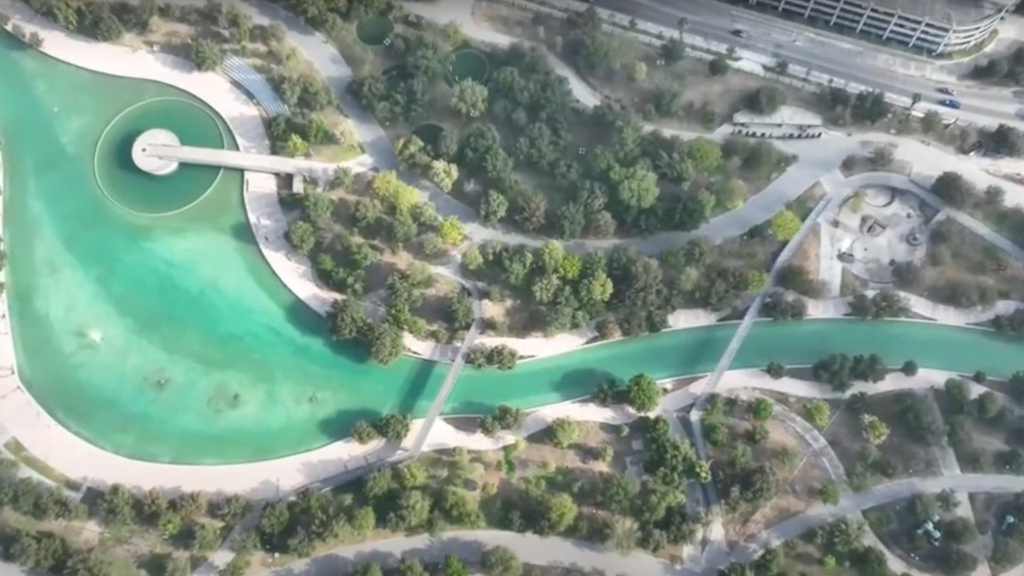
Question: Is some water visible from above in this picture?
Yes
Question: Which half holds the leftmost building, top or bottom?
top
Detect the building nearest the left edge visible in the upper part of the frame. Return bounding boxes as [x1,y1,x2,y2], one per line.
[733,106,822,128]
